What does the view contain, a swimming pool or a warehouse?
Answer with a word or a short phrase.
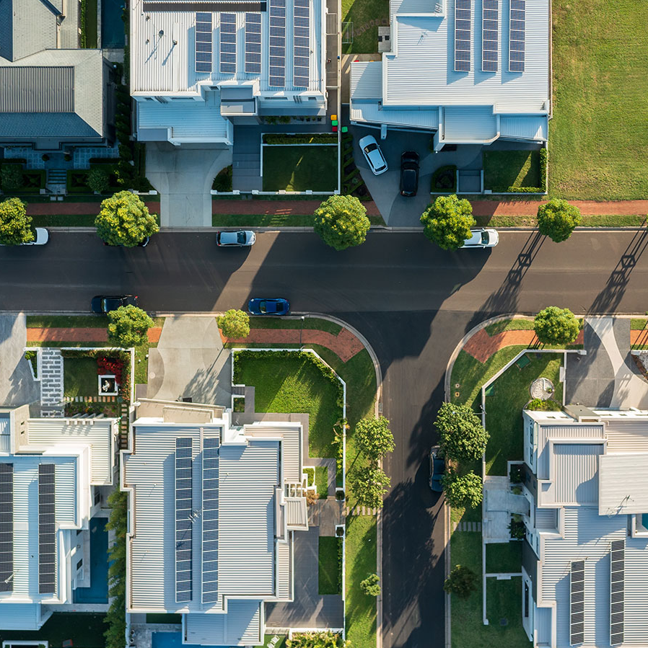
swimming pool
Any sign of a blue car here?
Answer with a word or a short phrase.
Yes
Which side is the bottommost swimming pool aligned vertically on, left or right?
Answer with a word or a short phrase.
left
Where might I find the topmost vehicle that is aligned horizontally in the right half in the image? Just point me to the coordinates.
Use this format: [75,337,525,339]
[455,229,498,248]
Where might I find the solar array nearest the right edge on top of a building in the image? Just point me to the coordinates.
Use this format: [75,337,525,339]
[611,541,624,648]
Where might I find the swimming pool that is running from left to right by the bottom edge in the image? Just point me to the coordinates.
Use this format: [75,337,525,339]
[150,630,246,648]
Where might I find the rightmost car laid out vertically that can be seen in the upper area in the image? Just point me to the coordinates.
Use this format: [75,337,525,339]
[399,150,419,197]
